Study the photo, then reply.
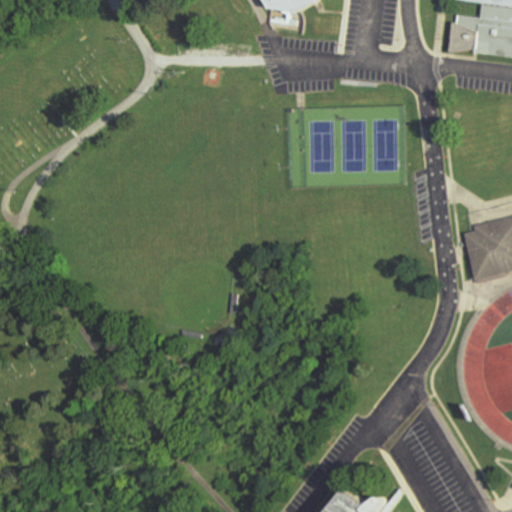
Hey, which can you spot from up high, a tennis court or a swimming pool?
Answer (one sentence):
I can see a tennis court in this picture.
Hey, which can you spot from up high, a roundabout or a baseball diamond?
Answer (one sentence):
I can see a baseball diamond in this picture.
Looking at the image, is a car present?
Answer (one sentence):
No, there's no car here.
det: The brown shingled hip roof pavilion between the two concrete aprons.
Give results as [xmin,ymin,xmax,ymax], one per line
[461,214,512,282]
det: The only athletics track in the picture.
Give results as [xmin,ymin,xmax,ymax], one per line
[457,284,512,452]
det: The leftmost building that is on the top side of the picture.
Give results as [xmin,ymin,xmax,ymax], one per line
[260,0,318,30]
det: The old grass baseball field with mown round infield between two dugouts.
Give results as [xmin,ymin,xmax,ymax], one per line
[158,250,233,334]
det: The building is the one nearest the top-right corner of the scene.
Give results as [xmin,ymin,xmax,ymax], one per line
[450,0,512,59]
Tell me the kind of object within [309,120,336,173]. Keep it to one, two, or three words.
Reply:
tennis court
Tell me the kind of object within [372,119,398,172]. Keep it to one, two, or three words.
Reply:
tennis court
